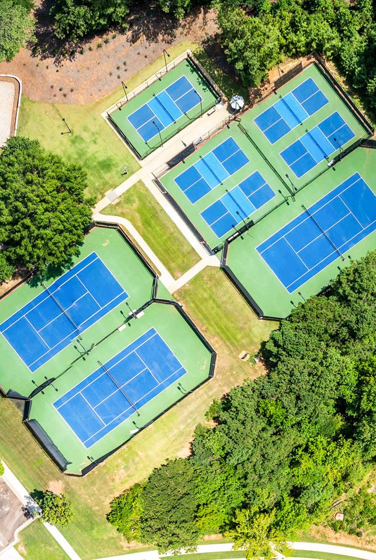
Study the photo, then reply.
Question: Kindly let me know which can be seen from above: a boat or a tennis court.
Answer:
tennis court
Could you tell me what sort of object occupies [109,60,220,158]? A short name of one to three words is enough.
sports court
